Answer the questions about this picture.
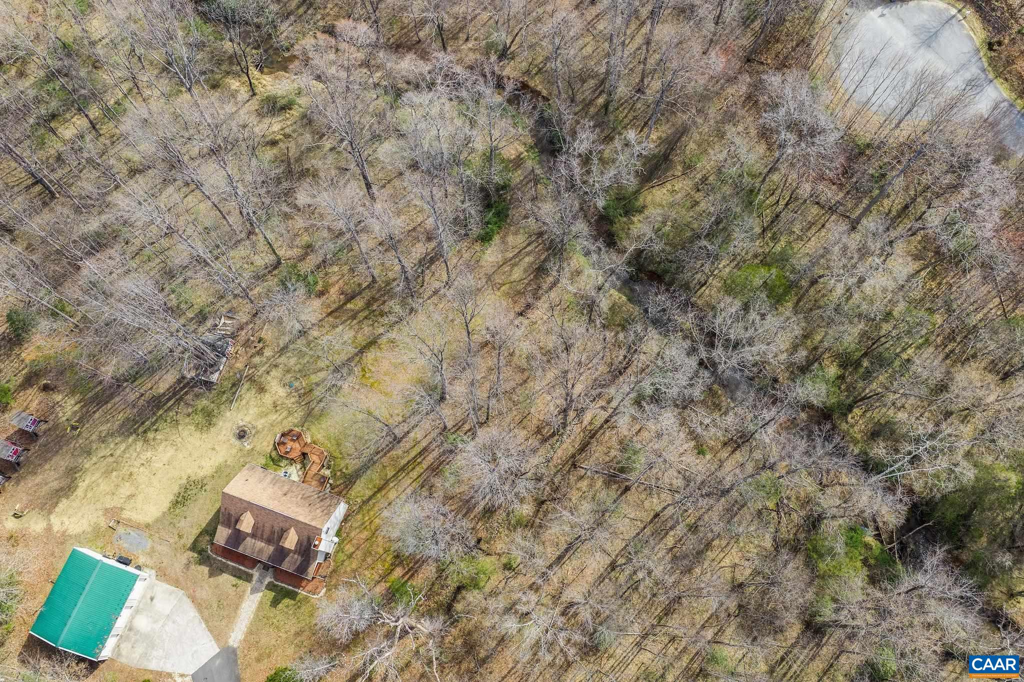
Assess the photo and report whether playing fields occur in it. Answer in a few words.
No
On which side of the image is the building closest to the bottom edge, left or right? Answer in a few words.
left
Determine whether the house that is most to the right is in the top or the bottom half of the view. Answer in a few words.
bottom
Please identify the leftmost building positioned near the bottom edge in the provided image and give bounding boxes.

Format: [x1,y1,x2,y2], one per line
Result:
[26,547,148,663]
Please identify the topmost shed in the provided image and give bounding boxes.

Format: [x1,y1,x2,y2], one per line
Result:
[1,407,43,438]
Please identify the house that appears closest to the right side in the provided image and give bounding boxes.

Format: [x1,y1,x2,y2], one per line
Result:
[213,463,348,584]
